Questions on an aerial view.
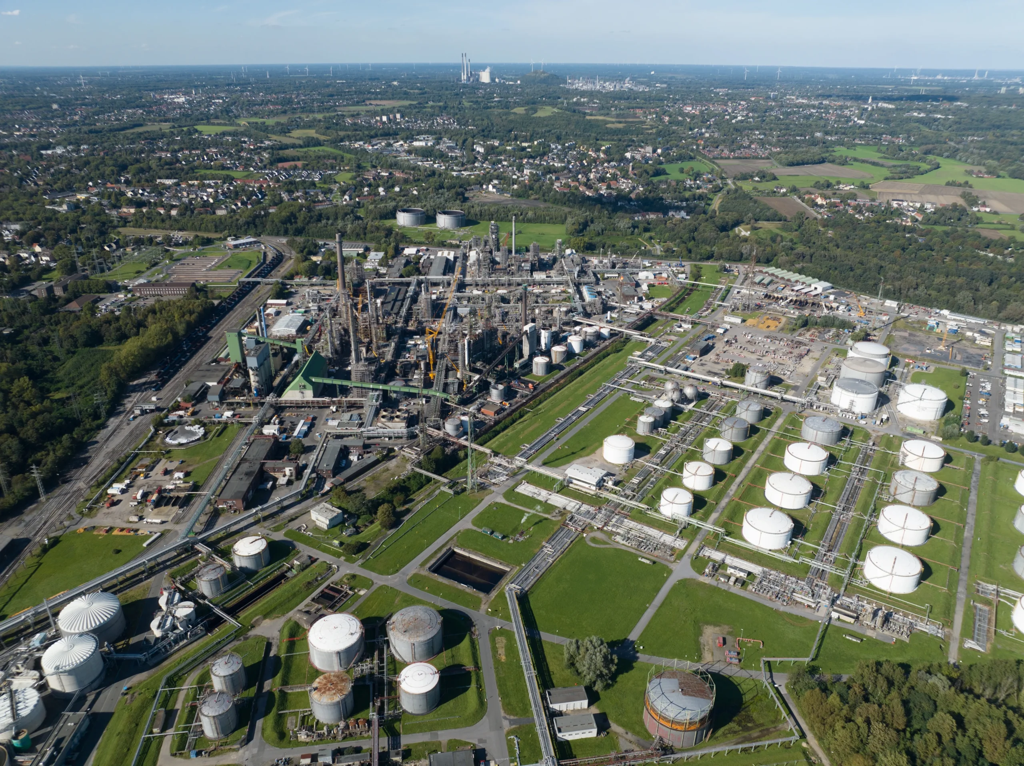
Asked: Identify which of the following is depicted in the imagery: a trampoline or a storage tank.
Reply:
storage tank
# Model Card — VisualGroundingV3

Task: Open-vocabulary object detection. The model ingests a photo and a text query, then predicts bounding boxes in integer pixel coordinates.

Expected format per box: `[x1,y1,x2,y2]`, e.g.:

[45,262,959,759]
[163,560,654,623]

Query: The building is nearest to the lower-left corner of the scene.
[28,712,94,766]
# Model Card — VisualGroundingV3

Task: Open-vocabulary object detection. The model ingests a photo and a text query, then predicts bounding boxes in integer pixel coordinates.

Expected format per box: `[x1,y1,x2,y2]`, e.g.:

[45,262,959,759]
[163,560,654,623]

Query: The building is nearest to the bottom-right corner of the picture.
[830,604,858,630]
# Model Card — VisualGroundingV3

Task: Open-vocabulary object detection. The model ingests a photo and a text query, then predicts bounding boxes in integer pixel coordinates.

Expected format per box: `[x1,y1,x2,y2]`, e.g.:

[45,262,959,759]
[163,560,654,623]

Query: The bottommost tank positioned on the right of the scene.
[651,665,721,750]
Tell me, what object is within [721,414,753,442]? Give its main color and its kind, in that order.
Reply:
gray storage tank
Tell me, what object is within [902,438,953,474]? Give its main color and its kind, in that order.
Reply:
white storage tank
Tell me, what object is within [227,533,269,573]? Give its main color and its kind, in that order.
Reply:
white storage tank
